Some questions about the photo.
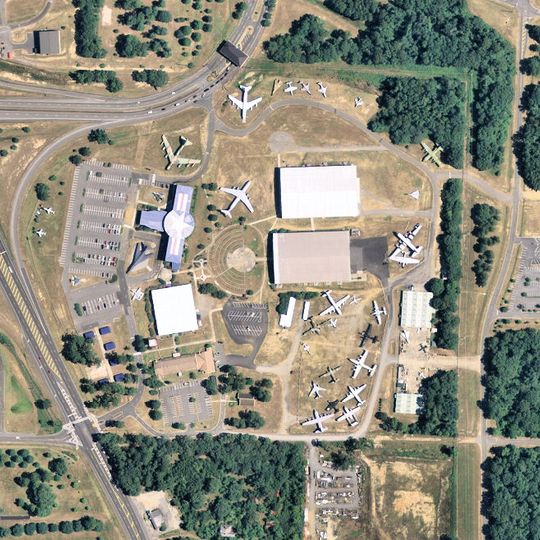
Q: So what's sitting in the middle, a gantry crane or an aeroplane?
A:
aeroplane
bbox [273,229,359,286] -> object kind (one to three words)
hangar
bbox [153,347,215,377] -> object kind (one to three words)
building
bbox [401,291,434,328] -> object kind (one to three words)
building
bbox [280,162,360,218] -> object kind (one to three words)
hangar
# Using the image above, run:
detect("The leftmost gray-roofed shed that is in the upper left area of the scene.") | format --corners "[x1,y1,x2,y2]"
[38,30,59,54]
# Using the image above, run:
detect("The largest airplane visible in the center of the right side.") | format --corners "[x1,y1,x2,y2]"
[391,224,423,258]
